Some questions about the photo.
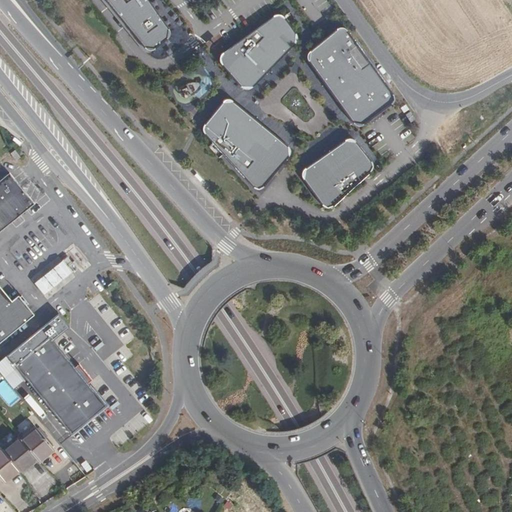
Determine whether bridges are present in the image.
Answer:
Yes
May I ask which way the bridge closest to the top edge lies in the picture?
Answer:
diagonally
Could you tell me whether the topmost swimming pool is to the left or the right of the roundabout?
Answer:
to the left of it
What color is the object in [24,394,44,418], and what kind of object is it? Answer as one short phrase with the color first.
white vehicle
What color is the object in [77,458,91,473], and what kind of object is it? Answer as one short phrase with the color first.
white vehicle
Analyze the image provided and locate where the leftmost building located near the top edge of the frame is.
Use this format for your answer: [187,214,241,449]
[108,0,170,50]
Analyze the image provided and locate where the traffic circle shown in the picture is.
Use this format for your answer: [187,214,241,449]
[172,252,382,462]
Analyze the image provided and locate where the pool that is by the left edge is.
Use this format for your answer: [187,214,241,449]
[0,378,22,408]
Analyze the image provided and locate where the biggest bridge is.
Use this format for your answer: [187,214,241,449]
[164,252,249,352]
